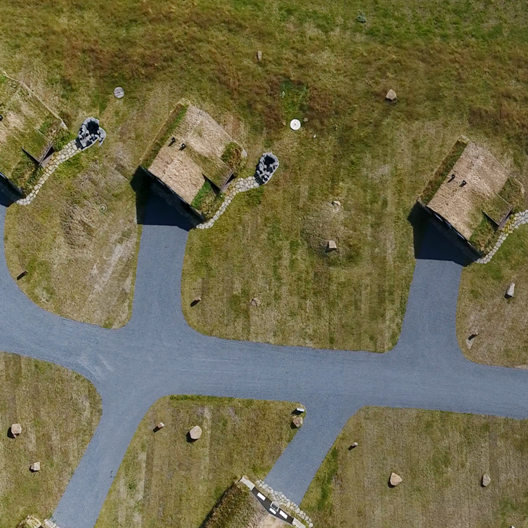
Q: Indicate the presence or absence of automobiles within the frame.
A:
No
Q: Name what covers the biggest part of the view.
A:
grass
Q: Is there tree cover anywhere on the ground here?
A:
No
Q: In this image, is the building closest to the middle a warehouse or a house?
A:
house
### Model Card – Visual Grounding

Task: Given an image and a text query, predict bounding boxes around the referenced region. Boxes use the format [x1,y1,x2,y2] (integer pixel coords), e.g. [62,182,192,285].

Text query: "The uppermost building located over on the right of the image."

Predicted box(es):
[417,134,528,257]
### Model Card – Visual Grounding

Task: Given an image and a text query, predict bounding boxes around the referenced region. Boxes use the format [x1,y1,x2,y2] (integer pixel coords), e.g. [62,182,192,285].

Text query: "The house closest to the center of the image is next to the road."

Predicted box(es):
[137,96,252,221]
